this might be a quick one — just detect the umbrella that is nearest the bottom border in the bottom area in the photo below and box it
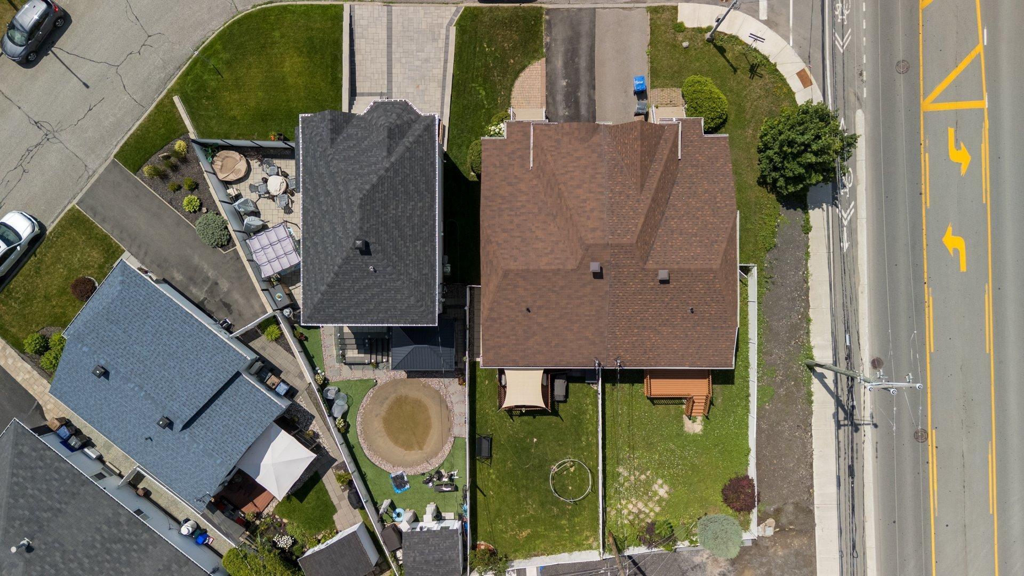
[376,500,392,525]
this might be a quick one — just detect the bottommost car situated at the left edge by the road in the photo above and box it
[0,212,40,283]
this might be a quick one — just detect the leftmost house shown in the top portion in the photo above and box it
[295,99,453,325]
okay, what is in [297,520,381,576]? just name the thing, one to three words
shed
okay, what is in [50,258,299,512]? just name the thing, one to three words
house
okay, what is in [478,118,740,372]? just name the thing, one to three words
house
